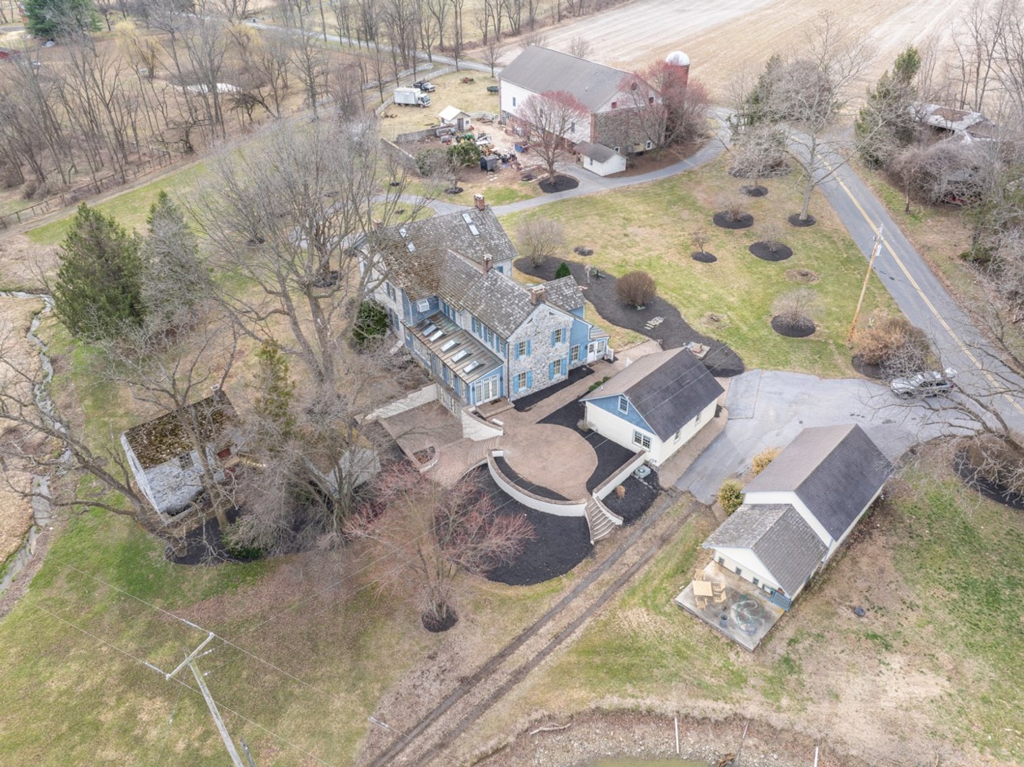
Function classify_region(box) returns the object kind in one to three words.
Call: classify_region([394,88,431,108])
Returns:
vehicle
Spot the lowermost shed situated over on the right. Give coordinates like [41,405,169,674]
[704,424,893,610]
